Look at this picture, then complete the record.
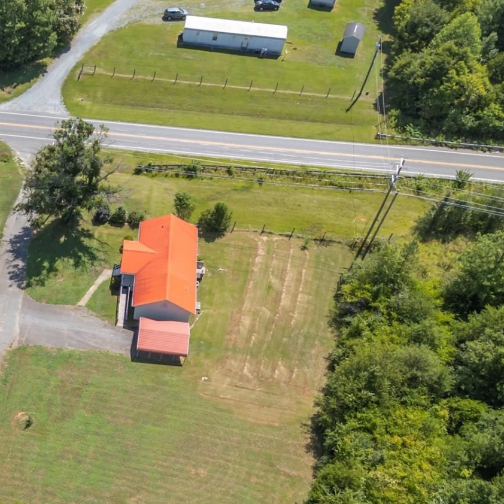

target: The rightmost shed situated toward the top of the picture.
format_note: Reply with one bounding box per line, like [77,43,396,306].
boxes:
[340,24,366,54]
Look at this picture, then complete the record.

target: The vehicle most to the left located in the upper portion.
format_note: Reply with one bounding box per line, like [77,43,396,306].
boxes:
[164,8,187,21]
